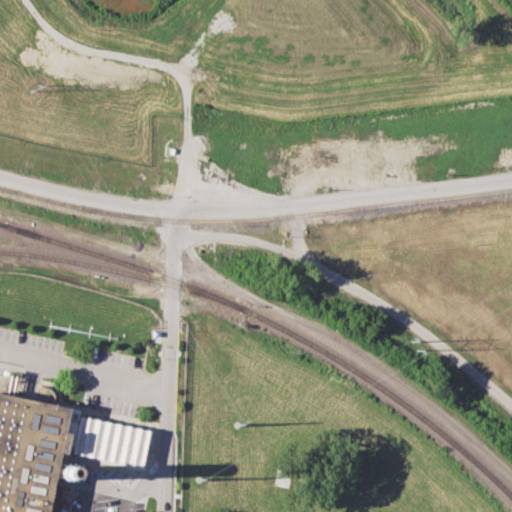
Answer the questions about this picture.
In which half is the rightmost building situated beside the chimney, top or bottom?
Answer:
bottom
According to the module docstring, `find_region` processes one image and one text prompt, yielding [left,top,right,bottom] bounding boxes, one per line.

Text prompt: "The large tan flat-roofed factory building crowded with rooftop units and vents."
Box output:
[0,396,80,512]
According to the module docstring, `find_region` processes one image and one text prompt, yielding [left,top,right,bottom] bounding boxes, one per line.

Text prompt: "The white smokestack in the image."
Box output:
[60,464,88,484]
